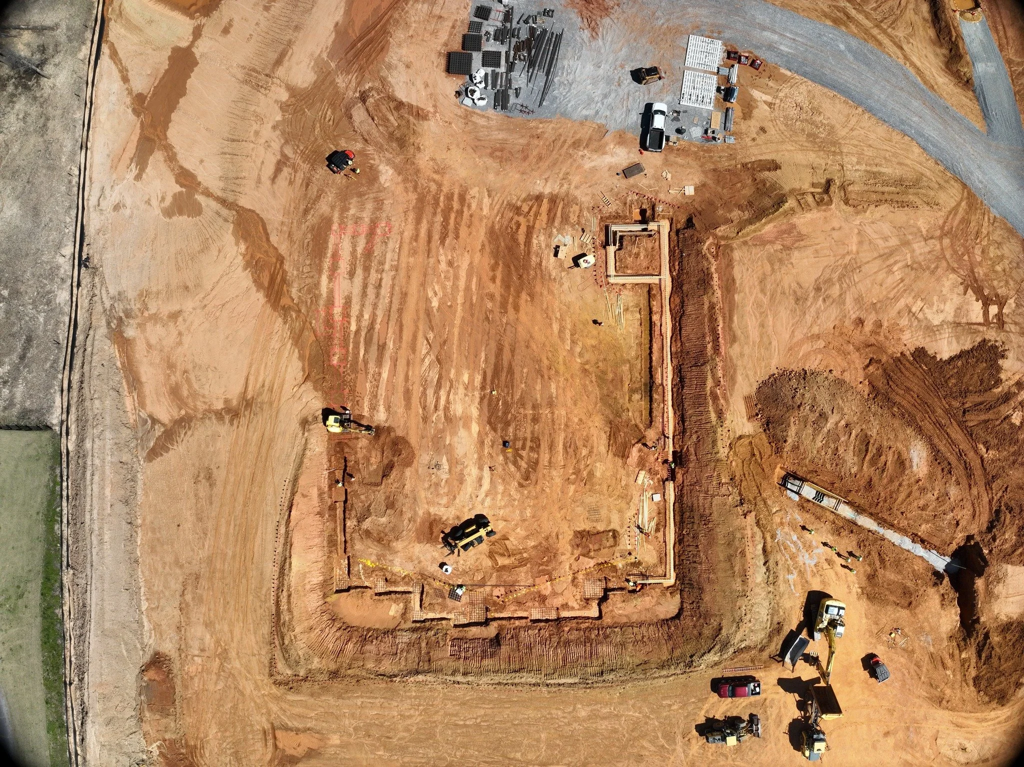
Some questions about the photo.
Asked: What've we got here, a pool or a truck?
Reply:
truck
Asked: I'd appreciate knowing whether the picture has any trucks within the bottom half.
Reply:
Yes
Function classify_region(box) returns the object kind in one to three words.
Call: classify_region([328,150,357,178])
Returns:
vehicle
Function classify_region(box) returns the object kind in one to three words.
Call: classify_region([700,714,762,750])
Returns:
work vehicle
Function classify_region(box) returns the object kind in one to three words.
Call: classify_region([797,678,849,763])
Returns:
truck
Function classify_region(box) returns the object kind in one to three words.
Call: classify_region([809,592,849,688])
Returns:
work vehicle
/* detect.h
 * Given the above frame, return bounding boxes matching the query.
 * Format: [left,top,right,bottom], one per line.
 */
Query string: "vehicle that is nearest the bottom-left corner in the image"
[326,416,377,435]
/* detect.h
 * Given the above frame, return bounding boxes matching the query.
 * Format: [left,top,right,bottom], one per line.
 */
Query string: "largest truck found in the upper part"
[645,102,669,155]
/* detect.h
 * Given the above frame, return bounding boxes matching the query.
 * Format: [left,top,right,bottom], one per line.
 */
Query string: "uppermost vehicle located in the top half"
[639,63,667,85]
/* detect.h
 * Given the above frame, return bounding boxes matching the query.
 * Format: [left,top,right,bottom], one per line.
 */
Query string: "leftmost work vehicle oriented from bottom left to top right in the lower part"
[443,518,496,559]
